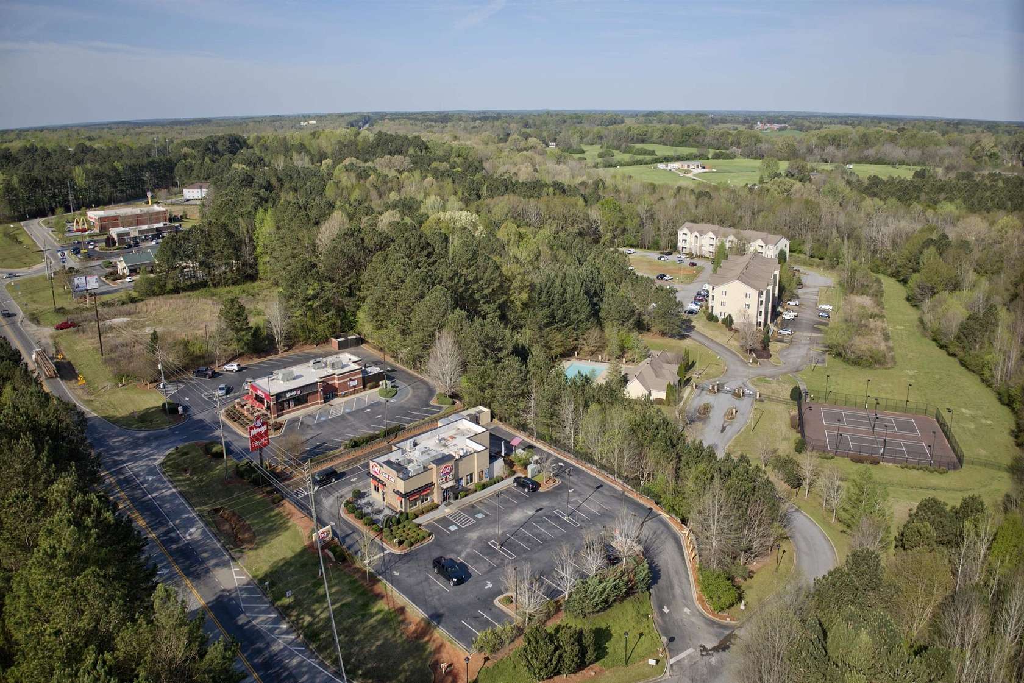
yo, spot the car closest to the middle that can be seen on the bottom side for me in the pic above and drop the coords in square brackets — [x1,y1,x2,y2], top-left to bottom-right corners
[514,475,538,491]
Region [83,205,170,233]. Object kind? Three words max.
building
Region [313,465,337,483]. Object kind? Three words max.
car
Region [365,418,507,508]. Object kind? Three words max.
building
